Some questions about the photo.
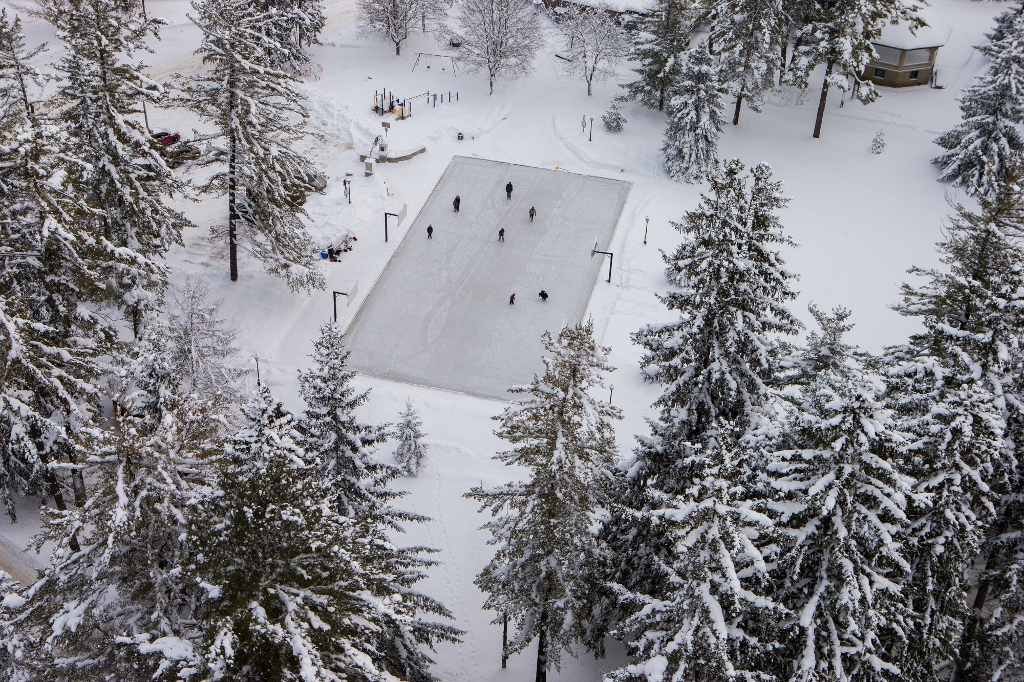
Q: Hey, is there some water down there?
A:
No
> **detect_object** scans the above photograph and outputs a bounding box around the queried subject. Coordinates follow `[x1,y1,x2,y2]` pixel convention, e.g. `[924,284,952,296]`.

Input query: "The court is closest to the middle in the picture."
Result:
[342,157,633,406]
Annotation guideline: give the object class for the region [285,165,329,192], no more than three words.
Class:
car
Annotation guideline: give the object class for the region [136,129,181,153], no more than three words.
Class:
car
